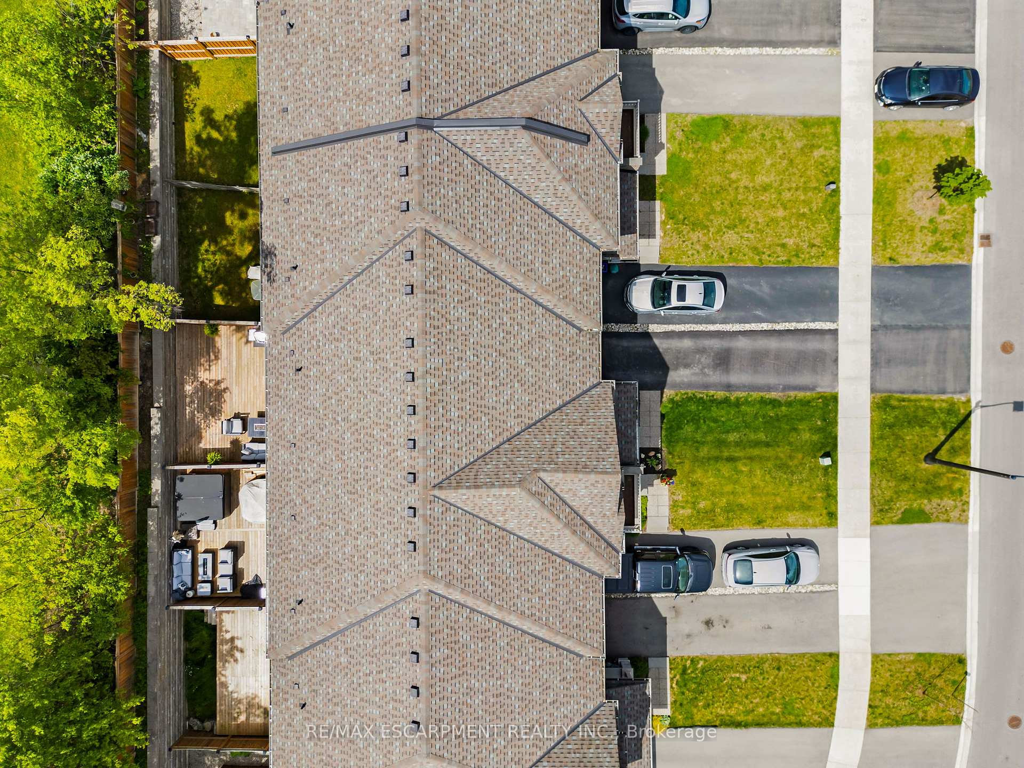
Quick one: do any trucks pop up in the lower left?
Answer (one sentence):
No, there's no truck to be seen in the lower left.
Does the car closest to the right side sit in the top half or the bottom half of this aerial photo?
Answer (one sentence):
You can find the car closest to the right side in the top half.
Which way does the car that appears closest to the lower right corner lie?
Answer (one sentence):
The car that appears closest to the lower right corner is laid out from left to right.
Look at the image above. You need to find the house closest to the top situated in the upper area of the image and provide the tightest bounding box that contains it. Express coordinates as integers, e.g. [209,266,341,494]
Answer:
[255,0,640,332]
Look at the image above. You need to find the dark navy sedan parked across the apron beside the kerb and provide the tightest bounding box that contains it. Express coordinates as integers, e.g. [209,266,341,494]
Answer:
[872,65,982,116]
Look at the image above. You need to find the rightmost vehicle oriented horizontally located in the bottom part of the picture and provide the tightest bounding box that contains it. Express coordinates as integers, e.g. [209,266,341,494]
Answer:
[718,543,818,592]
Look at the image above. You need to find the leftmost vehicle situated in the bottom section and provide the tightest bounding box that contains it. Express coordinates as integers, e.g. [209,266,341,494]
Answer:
[608,541,715,595]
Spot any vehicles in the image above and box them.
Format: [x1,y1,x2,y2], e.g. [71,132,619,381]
[611,0,708,32]
[608,541,715,595]
[718,543,818,592]
[872,65,982,116]
[624,270,726,317]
